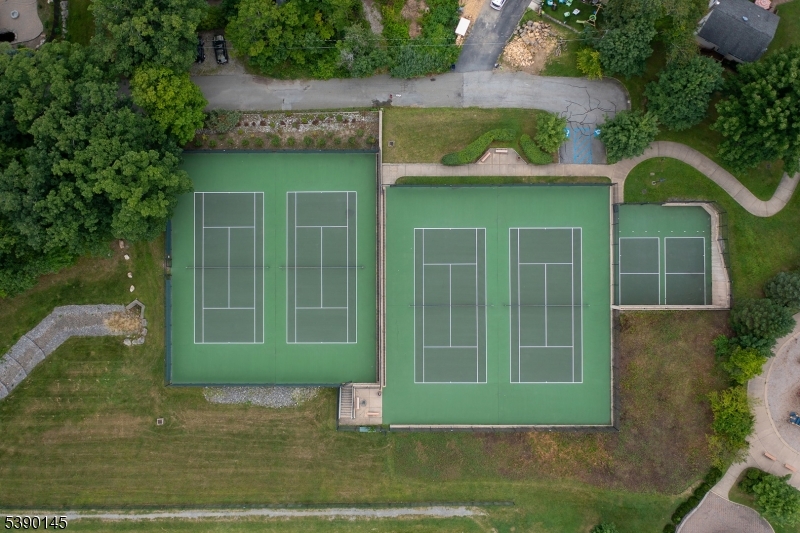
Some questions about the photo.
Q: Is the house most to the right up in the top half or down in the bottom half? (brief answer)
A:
top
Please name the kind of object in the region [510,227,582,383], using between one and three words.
tennis court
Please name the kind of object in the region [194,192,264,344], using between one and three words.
tennis court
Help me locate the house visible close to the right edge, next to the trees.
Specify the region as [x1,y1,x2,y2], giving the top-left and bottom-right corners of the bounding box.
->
[687,0,773,69]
